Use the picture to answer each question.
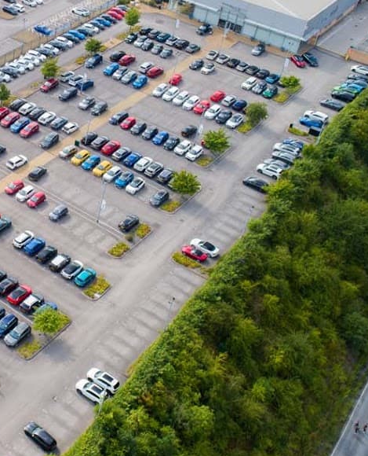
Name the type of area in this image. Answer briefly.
parking lot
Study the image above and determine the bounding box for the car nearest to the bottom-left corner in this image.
[23,421,59,453]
